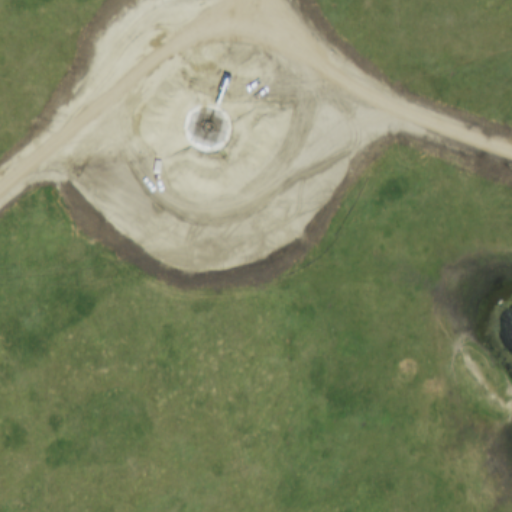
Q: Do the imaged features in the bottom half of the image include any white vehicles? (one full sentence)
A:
No, no white vehicle is visible in the bottom half of the image.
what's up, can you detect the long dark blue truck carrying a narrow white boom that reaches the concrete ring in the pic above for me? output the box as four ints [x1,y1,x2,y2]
[214,71,232,106]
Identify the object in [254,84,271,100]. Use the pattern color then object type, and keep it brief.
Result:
white vehicle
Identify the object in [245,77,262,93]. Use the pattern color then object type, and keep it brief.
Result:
white vehicle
